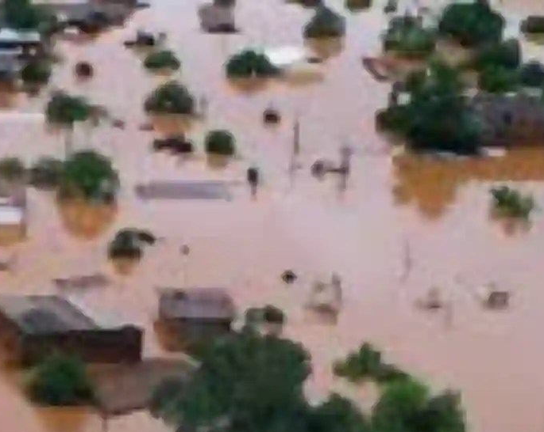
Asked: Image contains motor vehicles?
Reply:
No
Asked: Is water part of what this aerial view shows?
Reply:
Yes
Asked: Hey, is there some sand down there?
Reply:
No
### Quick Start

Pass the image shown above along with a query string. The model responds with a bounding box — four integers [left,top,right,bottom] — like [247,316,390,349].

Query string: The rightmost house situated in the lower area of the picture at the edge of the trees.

[148,288,236,343]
